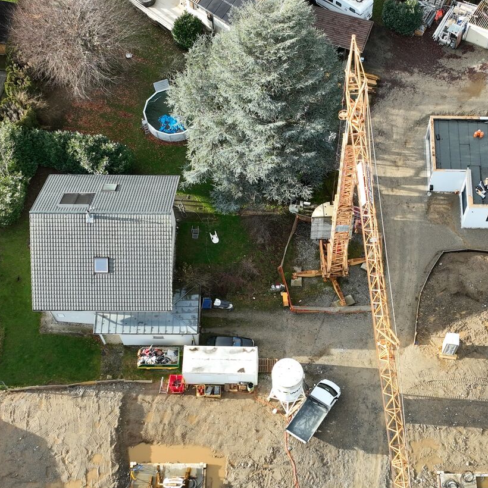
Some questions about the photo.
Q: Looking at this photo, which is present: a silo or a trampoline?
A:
silo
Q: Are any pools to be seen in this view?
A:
Yes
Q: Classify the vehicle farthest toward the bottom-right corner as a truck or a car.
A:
truck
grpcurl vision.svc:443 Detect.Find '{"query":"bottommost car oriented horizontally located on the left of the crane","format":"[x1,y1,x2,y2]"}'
[206,325,256,346]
